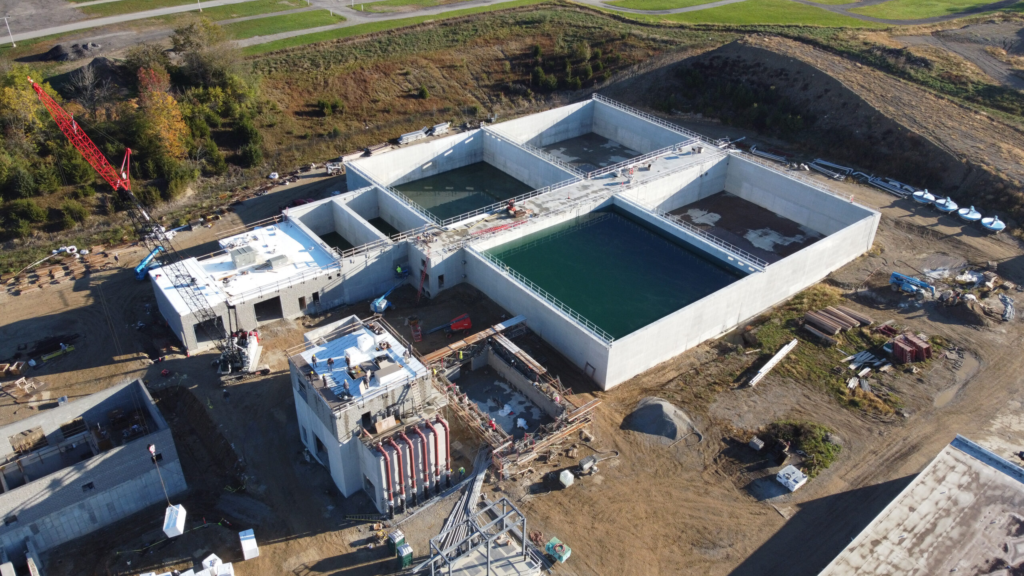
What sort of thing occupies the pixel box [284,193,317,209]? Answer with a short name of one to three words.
vehicle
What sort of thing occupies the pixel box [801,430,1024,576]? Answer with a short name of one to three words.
building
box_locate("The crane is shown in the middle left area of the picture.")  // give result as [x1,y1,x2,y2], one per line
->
[21,74,274,464]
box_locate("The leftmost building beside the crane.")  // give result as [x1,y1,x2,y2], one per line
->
[0,379,190,569]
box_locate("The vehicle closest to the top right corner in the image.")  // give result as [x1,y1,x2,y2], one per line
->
[892,269,946,305]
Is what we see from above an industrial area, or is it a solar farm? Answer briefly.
industrial area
